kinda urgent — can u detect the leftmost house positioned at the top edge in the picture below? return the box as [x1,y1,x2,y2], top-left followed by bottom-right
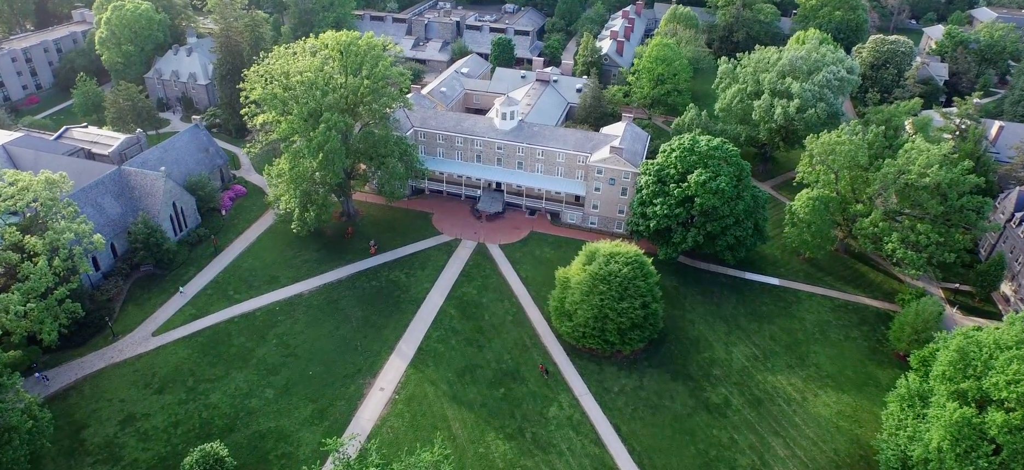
[0,7,100,107]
